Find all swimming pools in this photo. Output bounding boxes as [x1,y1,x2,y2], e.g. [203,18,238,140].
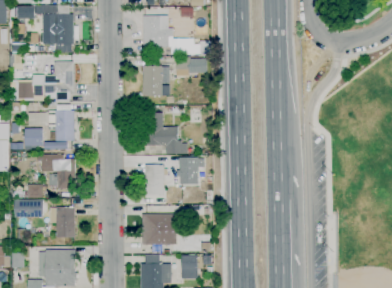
[196,17,206,27]
[18,218,29,228]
